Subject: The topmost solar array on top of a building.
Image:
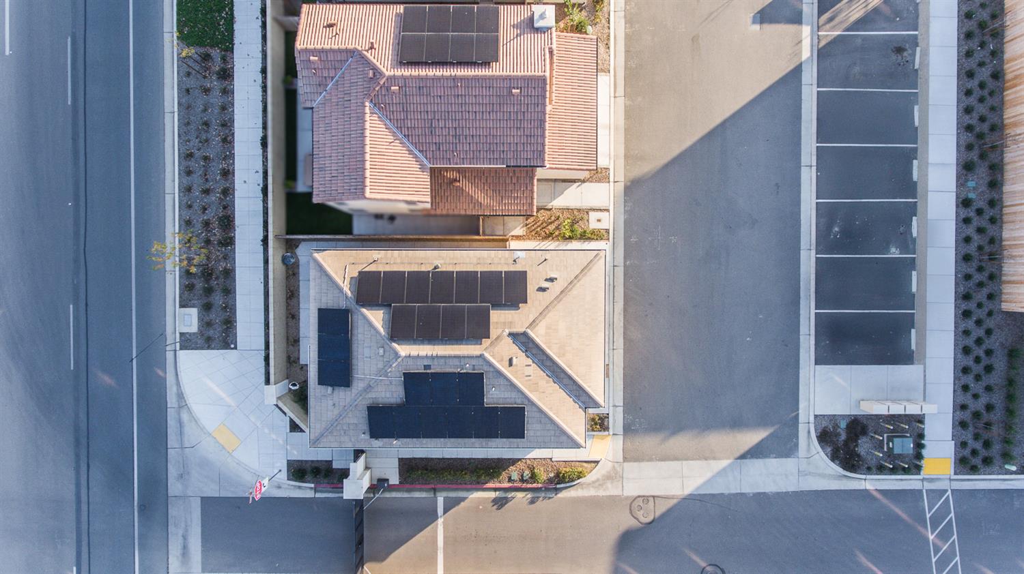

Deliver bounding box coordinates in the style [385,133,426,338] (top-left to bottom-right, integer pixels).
[398,6,500,62]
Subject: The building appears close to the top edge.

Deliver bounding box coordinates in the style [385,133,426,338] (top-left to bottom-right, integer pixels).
[289,0,600,217]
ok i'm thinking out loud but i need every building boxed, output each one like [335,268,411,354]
[307,246,609,451]
[289,0,600,217]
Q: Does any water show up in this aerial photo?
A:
No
